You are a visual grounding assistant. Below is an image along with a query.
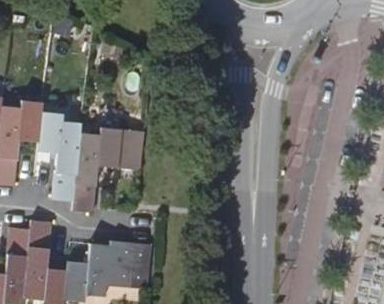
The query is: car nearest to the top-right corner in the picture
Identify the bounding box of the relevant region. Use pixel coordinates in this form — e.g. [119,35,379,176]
[312,36,328,58]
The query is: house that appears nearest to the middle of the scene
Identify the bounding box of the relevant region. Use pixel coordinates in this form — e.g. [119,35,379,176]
[119,129,144,170]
